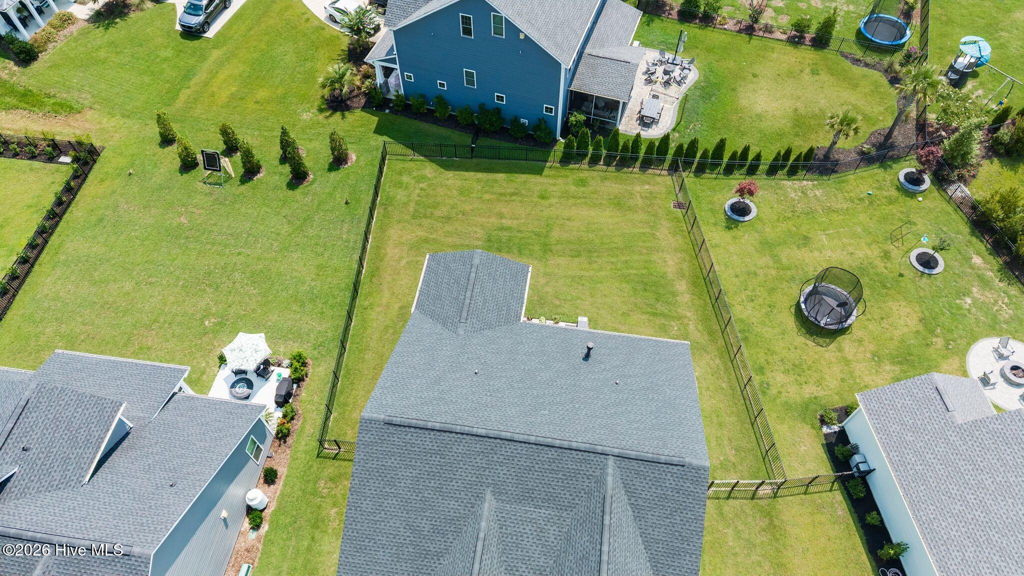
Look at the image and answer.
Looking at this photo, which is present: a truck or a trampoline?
trampoline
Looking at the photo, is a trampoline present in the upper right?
Yes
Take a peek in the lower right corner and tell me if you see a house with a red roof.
No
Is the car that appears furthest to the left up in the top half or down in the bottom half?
top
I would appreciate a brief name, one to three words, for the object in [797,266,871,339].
trampoline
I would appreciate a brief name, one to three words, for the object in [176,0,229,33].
car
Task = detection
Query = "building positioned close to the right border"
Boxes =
[843,372,1024,576]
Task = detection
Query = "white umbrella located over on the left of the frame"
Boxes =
[222,332,272,377]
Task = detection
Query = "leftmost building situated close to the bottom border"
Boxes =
[0,350,274,576]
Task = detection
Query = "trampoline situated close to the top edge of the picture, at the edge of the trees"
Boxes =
[855,0,923,53]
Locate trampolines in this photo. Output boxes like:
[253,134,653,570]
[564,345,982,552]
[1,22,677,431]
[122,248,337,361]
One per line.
[797,266,871,339]
[855,0,923,53]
